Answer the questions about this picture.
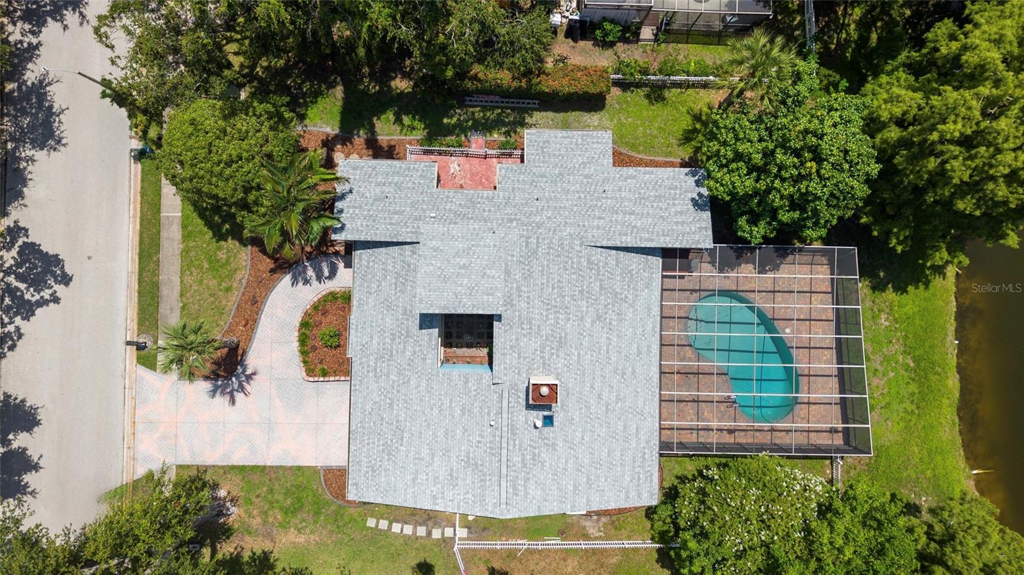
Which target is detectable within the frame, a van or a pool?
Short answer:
pool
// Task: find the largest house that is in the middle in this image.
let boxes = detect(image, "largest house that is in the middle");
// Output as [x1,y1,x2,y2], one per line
[332,130,713,517]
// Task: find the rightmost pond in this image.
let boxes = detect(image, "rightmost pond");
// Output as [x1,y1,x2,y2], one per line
[954,157,1024,533]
